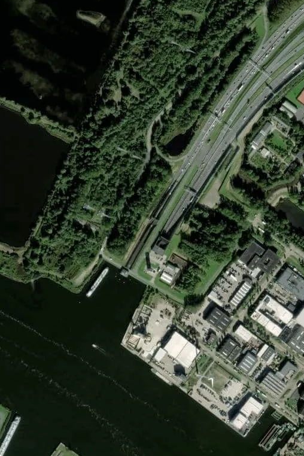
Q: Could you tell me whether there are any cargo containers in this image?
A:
No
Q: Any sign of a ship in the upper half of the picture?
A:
No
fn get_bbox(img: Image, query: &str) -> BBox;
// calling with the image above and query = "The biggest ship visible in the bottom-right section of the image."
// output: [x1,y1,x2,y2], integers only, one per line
[265,426,288,450]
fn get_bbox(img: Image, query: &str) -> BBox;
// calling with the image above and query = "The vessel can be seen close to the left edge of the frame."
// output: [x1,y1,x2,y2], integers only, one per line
[0,415,21,456]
